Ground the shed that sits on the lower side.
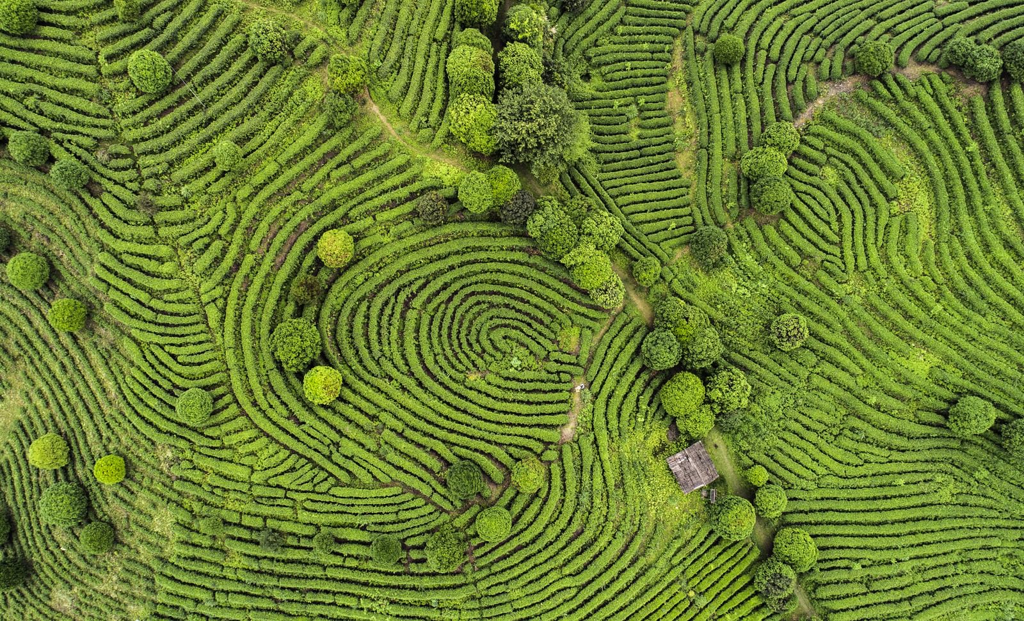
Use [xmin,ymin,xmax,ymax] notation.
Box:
[664,440,720,495]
